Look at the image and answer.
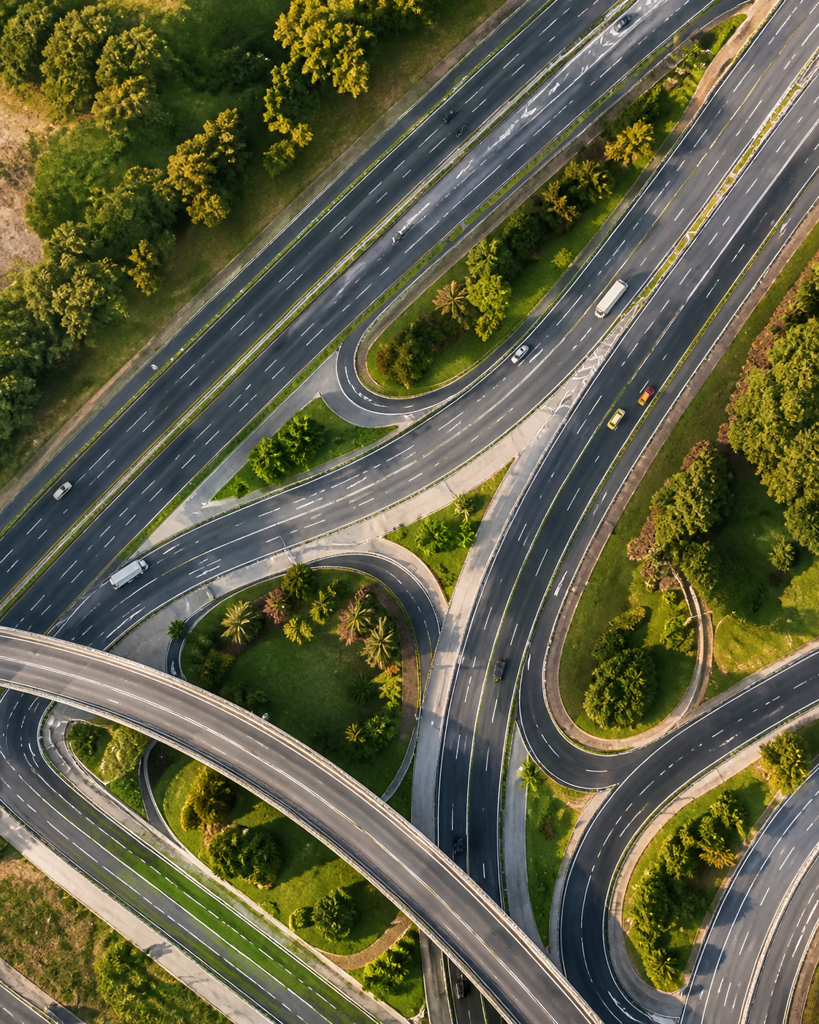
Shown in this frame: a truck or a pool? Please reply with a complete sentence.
I can see a truck in this picture.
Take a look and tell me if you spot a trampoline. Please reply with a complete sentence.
No, there appears to be no trampoline in this shot.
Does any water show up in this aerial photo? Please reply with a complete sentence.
No, water can't be seen anywhere here.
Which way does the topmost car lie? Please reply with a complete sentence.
The topmost car runs at an angle in the image.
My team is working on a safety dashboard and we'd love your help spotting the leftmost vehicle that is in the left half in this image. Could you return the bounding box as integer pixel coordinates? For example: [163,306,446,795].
[51,481,72,501]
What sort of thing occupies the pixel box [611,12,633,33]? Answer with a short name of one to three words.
car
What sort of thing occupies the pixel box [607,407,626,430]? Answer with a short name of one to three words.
car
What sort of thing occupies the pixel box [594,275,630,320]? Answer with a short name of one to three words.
truck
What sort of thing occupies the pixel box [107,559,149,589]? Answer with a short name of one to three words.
truck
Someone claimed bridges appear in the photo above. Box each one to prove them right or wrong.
[0,627,605,1024]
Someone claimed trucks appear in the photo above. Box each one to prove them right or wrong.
[107,559,149,589]
[594,275,630,320]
